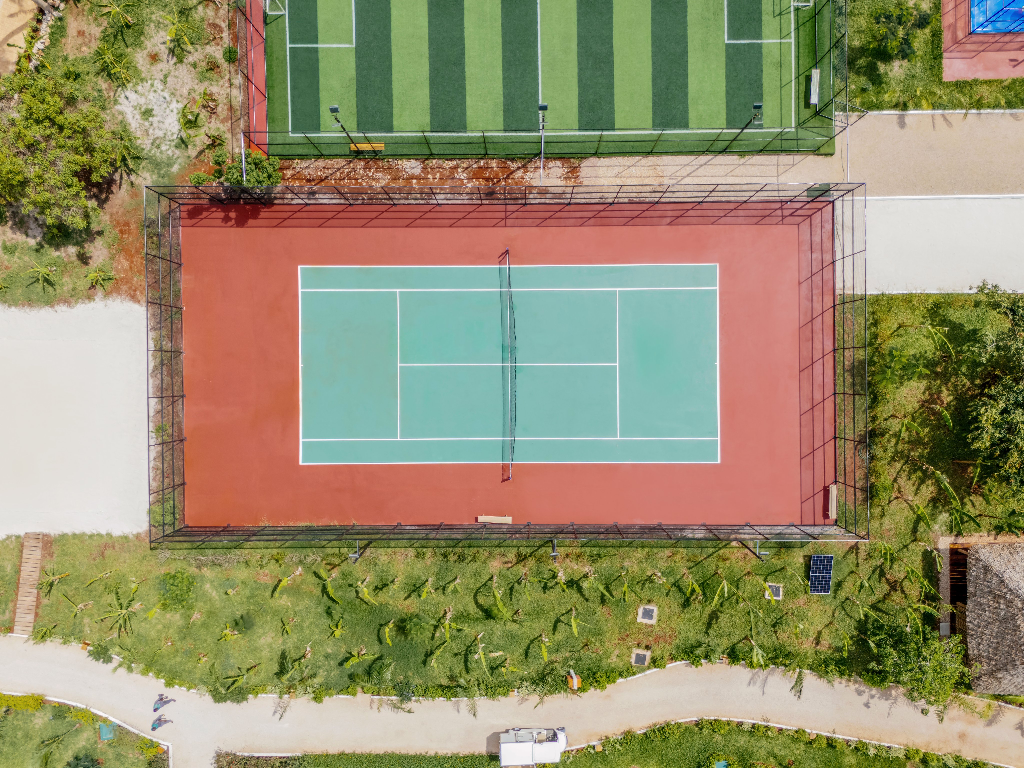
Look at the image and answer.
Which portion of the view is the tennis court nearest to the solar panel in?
center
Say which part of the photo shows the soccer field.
top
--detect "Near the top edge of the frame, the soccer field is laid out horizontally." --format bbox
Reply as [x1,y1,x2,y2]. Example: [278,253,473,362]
[266,0,835,159]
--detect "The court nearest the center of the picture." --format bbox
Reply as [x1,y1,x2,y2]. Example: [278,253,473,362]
[180,199,839,528]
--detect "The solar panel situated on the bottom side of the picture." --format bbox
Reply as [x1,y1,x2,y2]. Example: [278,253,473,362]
[810,555,834,595]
